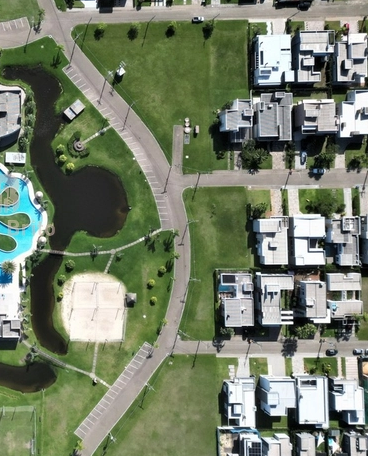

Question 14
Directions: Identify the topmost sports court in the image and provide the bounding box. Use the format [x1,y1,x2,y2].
[62,273,126,342]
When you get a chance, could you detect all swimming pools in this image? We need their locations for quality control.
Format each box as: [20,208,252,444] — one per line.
[0,169,44,283]
[219,283,232,292]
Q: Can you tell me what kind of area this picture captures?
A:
residential area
